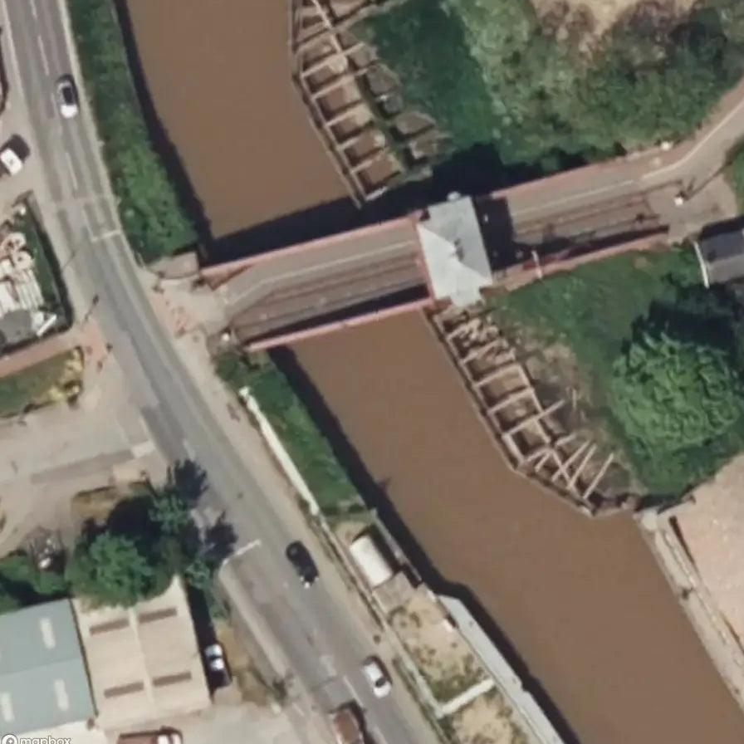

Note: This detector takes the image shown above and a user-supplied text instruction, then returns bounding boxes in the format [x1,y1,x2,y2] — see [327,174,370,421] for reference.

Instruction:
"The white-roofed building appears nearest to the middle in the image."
[349,535,393,587]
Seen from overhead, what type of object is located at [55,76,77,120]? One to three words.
car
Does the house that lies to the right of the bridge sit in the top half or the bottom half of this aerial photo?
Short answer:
top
